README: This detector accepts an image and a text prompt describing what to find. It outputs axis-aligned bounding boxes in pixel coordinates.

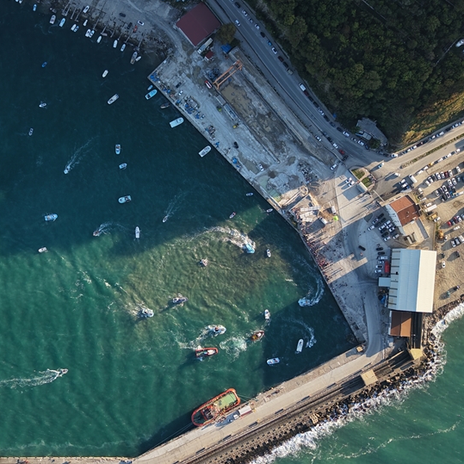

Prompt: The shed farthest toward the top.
[175,2,219,49]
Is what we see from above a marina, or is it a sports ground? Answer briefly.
marina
